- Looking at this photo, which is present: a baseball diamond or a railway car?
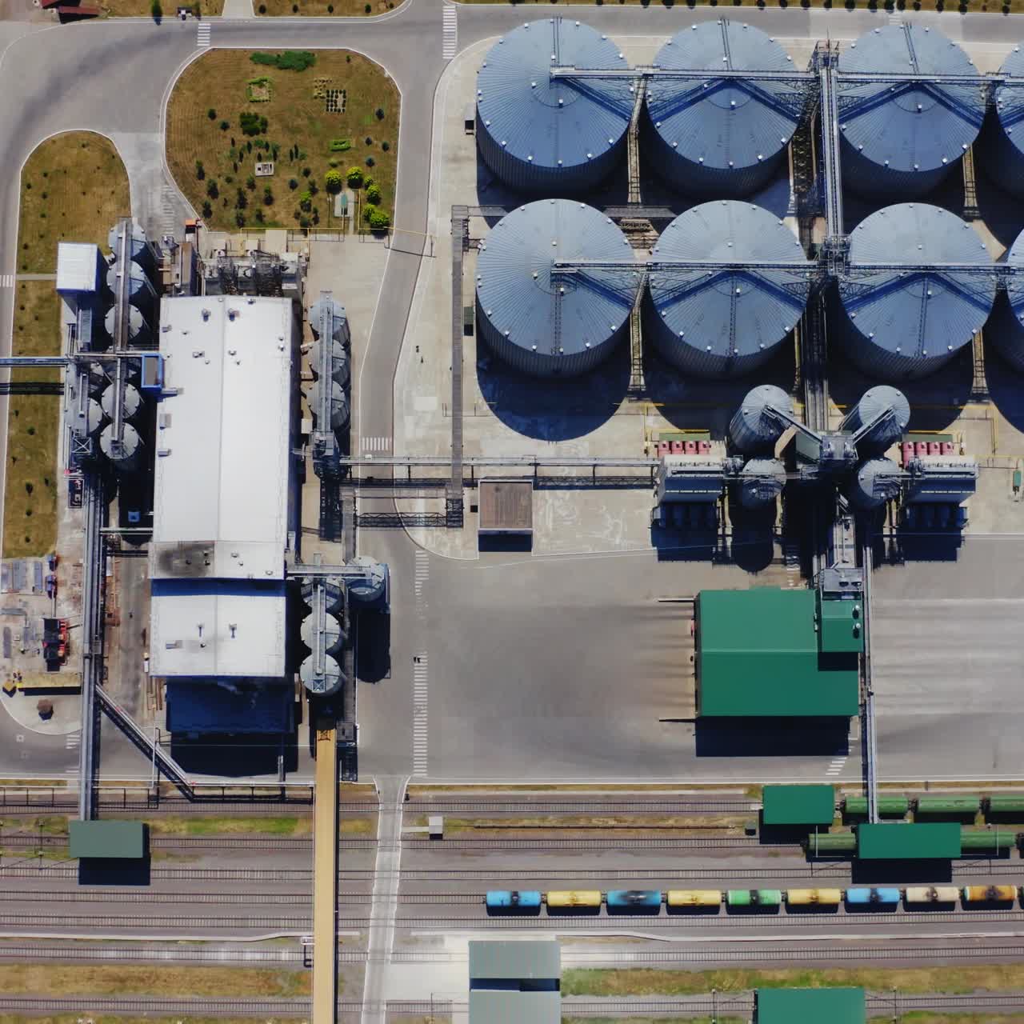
railway car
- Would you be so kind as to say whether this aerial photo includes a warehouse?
Yes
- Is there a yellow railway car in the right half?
Yes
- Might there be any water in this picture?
No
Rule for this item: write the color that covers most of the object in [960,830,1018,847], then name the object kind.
green rail car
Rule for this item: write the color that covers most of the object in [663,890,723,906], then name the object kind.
yellow rail car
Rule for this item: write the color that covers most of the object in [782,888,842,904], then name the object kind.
yellow rail car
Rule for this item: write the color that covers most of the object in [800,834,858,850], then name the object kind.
green rail car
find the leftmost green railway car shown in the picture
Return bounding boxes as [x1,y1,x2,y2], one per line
[722,889,783,905]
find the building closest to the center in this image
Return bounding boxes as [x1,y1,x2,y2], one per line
[478,480,533,534]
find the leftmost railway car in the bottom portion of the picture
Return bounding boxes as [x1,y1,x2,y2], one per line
[483,891,544,907]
